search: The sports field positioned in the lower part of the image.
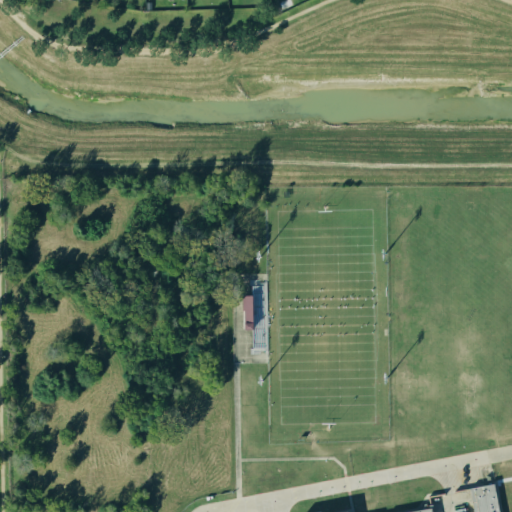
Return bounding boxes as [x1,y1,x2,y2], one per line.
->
[276,208,380,426]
